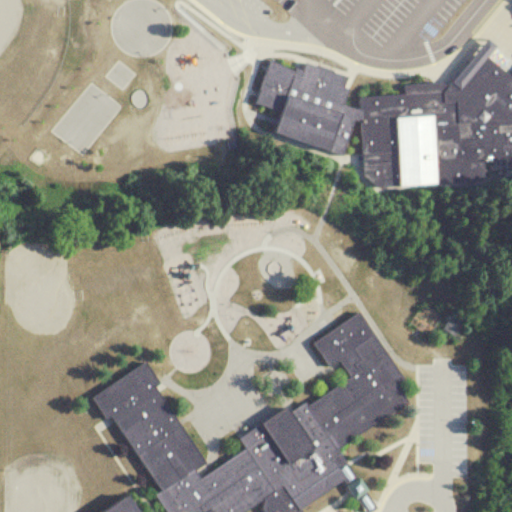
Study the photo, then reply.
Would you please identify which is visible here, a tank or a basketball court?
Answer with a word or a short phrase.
basketball court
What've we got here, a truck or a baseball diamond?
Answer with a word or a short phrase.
baseball diamond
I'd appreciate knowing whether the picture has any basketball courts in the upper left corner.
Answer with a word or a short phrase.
Yes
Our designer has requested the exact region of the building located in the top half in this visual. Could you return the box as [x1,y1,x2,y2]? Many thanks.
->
[256,41,512,188]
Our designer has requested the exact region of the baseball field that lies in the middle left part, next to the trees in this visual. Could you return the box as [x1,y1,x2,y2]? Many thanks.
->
[4,244,75,336]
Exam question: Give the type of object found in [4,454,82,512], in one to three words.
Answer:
baseball field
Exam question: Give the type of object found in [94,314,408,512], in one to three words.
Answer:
building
